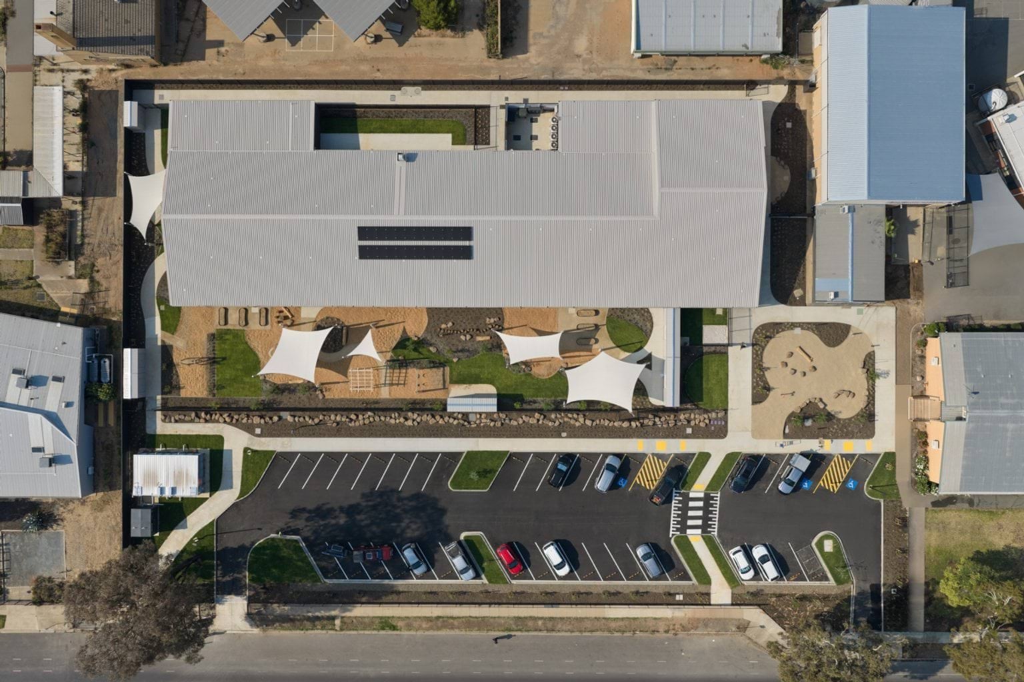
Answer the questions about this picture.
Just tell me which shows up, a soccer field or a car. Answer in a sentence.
There is a car in the scene.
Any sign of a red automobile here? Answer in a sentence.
Yes, you can see a red automobile in this photo.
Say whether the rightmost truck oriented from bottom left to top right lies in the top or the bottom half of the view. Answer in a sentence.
The rightmost truck oriented from bottom left to top right is in the bottom half of the image.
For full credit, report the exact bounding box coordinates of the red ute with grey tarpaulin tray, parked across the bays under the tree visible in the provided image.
[351,546,394,565]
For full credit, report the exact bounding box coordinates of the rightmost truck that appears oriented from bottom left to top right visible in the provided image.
[778,452,812,495]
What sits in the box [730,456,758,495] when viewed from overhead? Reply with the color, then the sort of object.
black car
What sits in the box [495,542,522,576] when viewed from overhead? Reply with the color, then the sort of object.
red car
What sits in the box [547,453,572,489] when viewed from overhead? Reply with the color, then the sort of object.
black car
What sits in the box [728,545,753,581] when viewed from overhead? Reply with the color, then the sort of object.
white car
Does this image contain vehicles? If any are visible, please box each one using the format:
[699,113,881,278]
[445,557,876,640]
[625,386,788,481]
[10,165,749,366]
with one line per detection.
[648,464,686,508]
[730,456,758,495]
[401,541,427,576]
[752,543,781,584]
[495,542,522,576]
[778,452,812,495]
[444,540,475,583]
[595,454,620,495]
[728,545,753,581]
[542,540,570,577]
[636,542,664,581]
[351,546,394,565]
[547,453,572,489]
